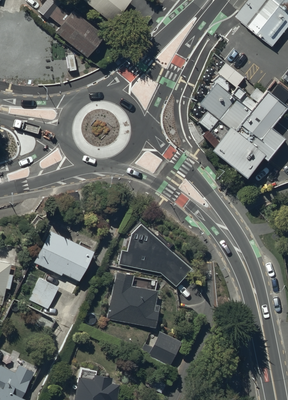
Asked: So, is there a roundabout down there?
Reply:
Yes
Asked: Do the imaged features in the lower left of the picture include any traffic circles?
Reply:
No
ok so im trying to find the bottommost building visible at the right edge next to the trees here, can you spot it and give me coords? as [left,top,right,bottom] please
[200,63,288,178]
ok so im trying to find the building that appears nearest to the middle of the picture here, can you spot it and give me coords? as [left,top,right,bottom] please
[118,224,192,288]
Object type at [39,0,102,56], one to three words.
house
